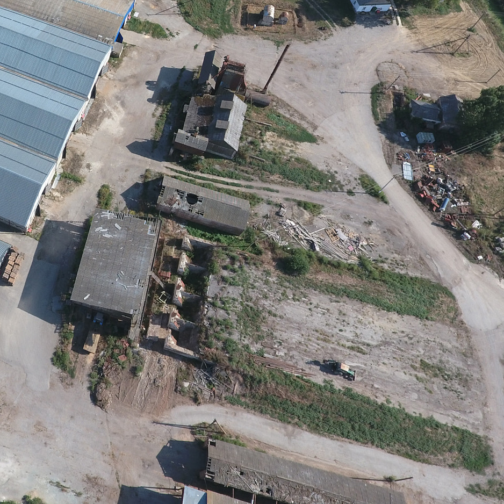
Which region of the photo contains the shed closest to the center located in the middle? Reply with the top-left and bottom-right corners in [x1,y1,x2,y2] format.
[155,176,250,235]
